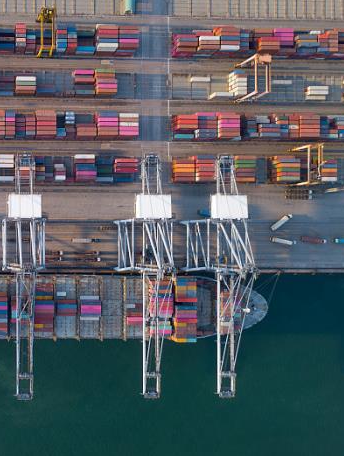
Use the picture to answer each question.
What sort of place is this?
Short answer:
port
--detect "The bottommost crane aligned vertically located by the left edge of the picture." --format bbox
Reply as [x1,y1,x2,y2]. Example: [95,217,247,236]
[0,154,47,399]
